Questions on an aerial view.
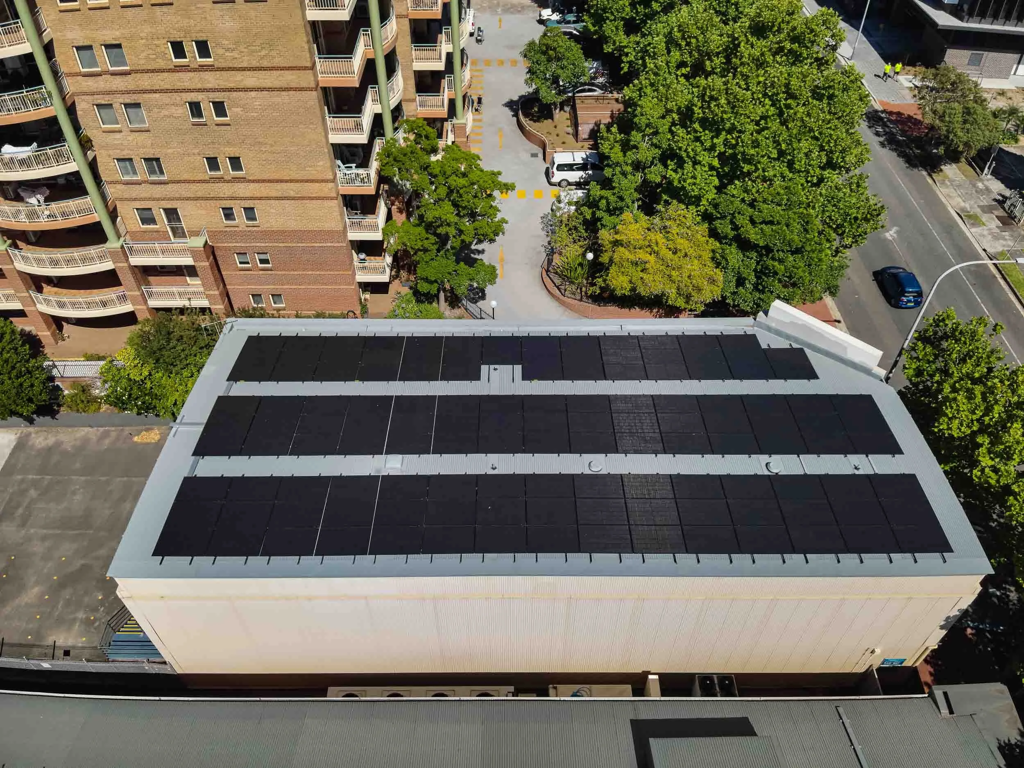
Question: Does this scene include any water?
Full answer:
No, the picture contains no water.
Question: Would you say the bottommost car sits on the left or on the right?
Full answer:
The bottommost car sits on the right side.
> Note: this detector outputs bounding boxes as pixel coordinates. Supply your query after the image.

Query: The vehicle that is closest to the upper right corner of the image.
[873,263,929,309]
